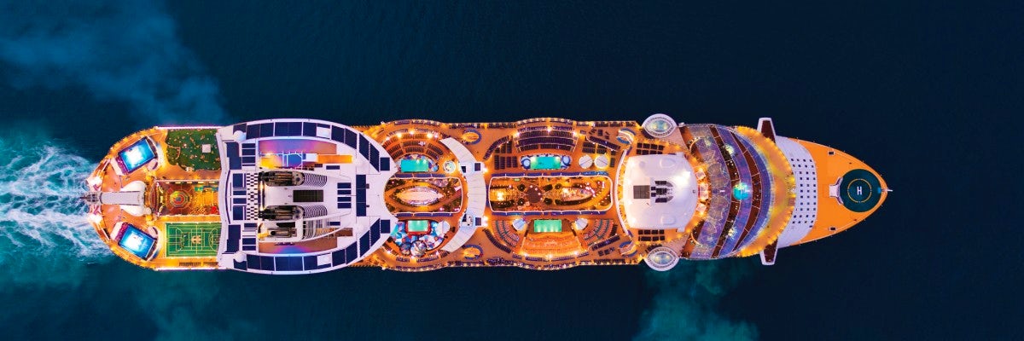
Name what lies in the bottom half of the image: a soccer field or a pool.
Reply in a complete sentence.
What appears in the bottom half of the image is a pool.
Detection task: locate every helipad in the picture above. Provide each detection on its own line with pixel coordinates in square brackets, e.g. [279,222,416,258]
[840,169,883,212]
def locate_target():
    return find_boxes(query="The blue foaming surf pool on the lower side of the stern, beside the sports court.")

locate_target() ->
[108,218,161,262]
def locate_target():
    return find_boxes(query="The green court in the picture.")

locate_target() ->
[165,223,222,257]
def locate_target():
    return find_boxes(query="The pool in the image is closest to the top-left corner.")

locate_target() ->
[112,134,159,179]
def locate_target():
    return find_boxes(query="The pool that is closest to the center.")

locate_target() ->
[521,154,573,171]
